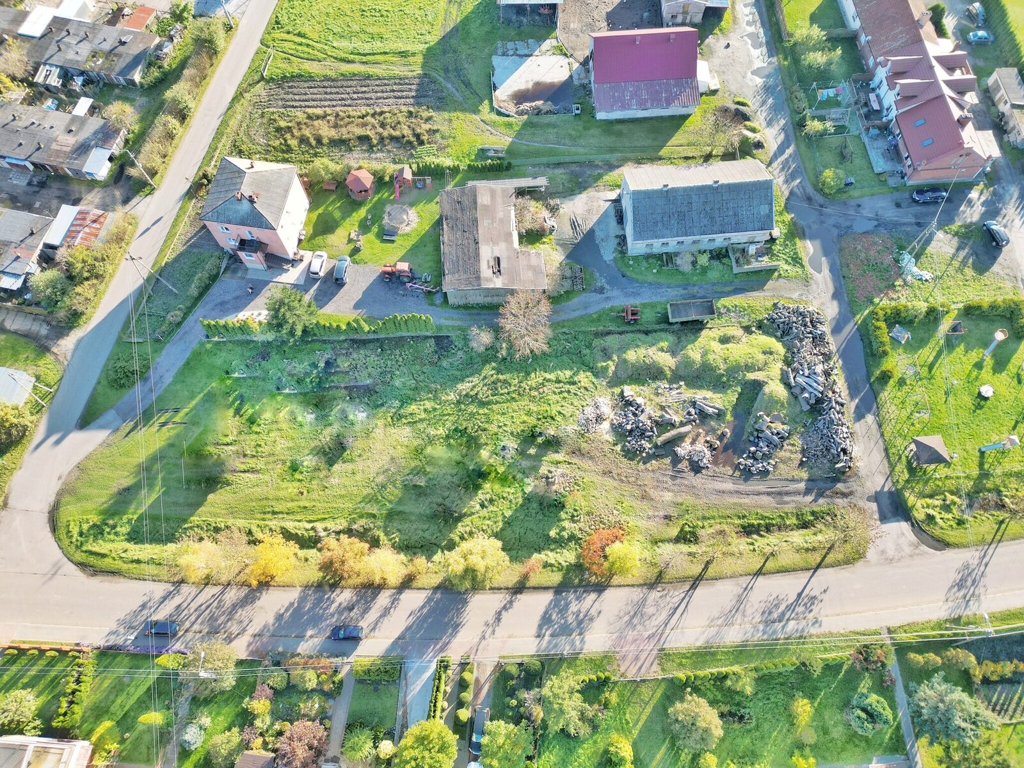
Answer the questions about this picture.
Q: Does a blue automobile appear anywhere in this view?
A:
Yes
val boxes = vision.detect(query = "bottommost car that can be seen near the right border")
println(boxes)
[981,222,1012,248]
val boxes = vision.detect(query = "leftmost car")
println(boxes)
[144,619,181,637]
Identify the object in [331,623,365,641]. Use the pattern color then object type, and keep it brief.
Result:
blue car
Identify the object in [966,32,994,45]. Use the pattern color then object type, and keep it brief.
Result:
blue vehicle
